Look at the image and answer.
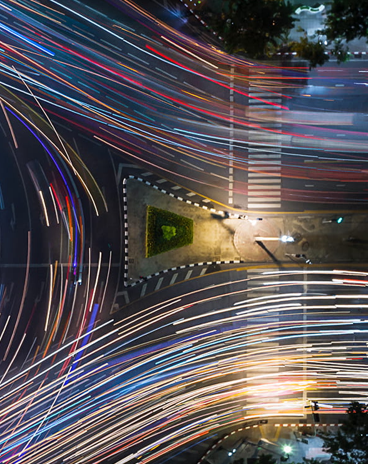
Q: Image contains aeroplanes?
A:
No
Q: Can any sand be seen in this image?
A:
No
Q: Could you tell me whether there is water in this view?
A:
No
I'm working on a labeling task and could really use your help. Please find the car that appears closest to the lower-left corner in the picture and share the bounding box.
[73,260,87,287]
